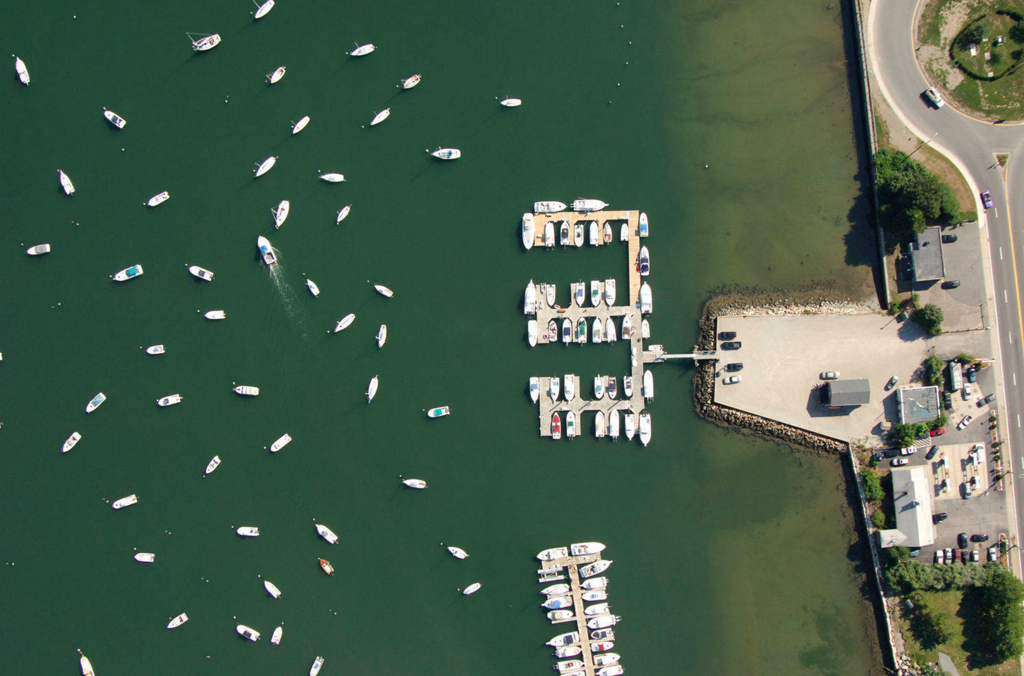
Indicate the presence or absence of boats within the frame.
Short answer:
Yes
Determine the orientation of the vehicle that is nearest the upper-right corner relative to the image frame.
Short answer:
on a diagonal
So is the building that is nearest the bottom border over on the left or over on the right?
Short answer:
right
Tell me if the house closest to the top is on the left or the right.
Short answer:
right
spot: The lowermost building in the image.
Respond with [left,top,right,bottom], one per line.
[878,468,934,548]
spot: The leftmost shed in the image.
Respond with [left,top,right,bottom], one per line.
[819,378,871,408]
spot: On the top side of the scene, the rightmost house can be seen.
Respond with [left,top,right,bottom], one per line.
[907,226,945,284]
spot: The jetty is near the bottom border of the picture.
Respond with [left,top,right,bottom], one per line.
[542,552,619,676]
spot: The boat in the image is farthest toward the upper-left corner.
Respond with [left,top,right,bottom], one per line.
[15,54,30,85]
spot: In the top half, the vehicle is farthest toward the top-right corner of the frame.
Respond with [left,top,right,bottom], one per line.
[926,86,946,108]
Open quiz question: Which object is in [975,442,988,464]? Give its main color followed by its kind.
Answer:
white vehicle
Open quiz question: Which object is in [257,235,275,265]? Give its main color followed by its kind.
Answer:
white boat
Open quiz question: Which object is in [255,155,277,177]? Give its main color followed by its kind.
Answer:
white boat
